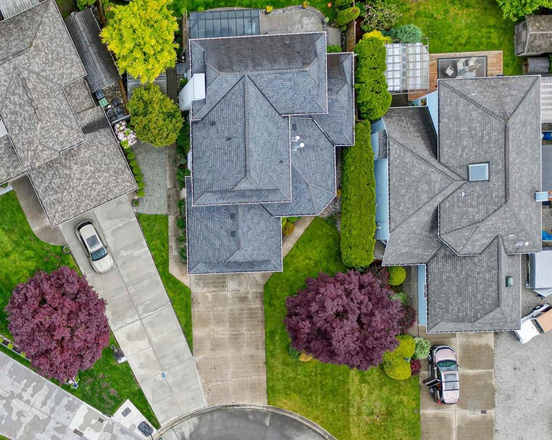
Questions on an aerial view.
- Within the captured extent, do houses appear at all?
Yes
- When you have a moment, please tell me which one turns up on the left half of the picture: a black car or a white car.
white car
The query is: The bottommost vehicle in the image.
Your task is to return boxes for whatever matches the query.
[421,346,459,403]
